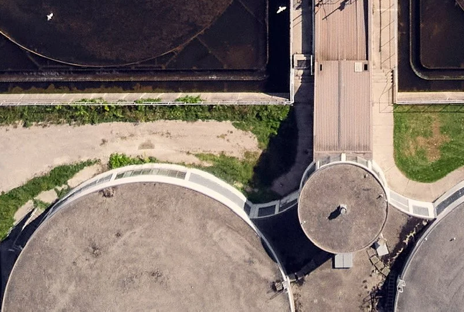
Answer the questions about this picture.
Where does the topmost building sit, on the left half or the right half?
right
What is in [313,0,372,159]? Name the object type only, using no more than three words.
building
